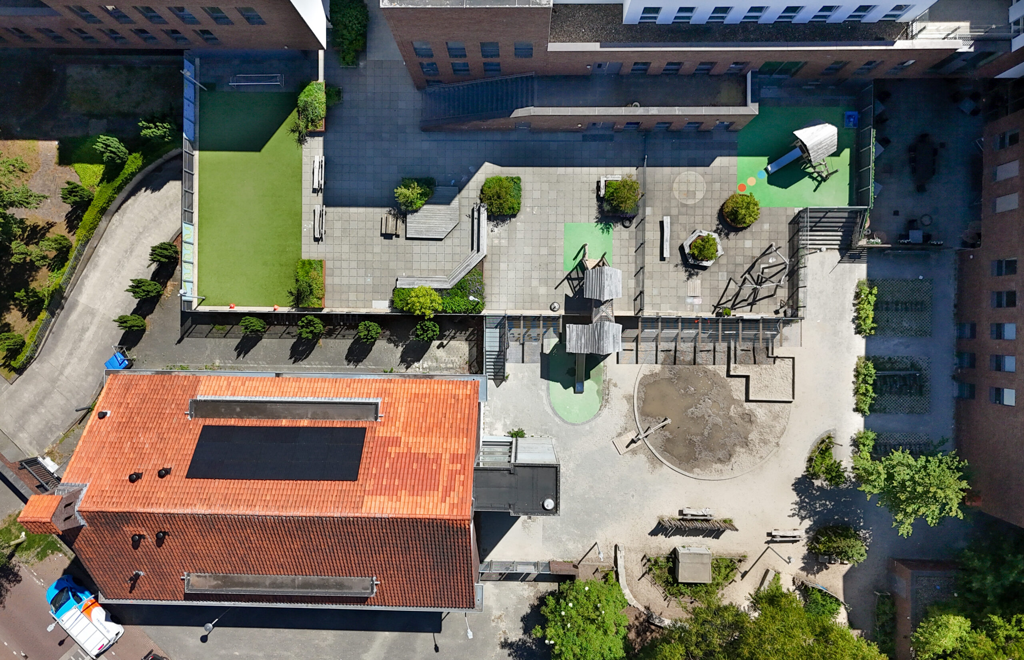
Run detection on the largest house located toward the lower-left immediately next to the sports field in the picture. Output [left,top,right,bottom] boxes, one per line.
[10,367,487,615]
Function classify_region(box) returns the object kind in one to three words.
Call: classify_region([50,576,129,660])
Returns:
van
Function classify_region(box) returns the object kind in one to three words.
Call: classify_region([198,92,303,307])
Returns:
sports field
